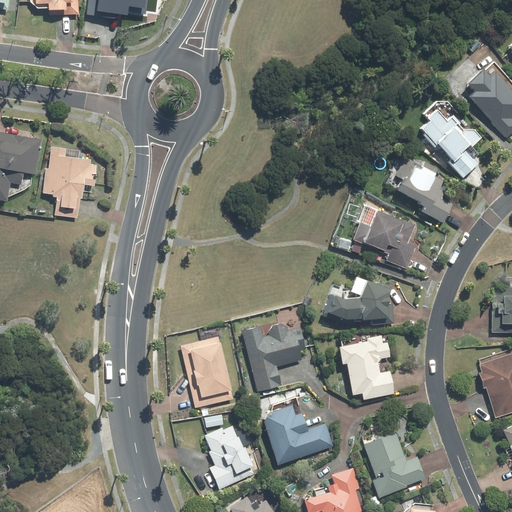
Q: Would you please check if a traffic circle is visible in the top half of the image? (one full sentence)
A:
Yes, the scene does show a traffic circle in the top half of the image.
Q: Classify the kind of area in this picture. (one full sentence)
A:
This image shows a residential area.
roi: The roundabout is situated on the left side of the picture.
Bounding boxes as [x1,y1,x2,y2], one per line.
[149,68,200,122]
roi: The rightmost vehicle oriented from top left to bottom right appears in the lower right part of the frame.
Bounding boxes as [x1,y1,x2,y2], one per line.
[474,406,490,422]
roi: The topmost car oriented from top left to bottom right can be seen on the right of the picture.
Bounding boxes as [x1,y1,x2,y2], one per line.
[446,215,462,230]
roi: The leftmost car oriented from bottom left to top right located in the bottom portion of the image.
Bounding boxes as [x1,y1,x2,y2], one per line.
[176,379,189,395]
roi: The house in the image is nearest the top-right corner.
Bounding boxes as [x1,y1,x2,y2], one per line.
[464,61,512,139]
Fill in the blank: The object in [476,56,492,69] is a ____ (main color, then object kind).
white vehicle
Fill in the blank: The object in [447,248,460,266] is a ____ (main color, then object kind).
white vehicle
